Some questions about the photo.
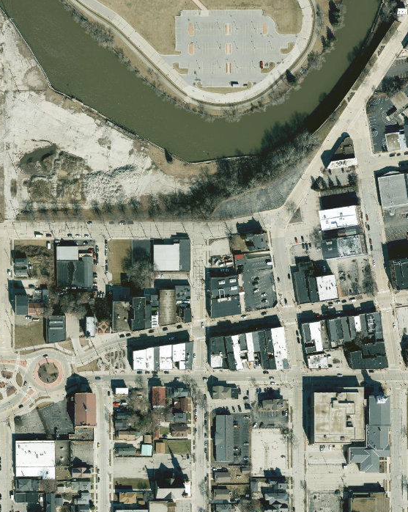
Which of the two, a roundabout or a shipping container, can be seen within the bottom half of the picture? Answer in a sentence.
Visible within the bottom half of the picture is a roundabout.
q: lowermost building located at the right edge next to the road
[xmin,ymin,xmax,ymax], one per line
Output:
[352,491,390,512]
